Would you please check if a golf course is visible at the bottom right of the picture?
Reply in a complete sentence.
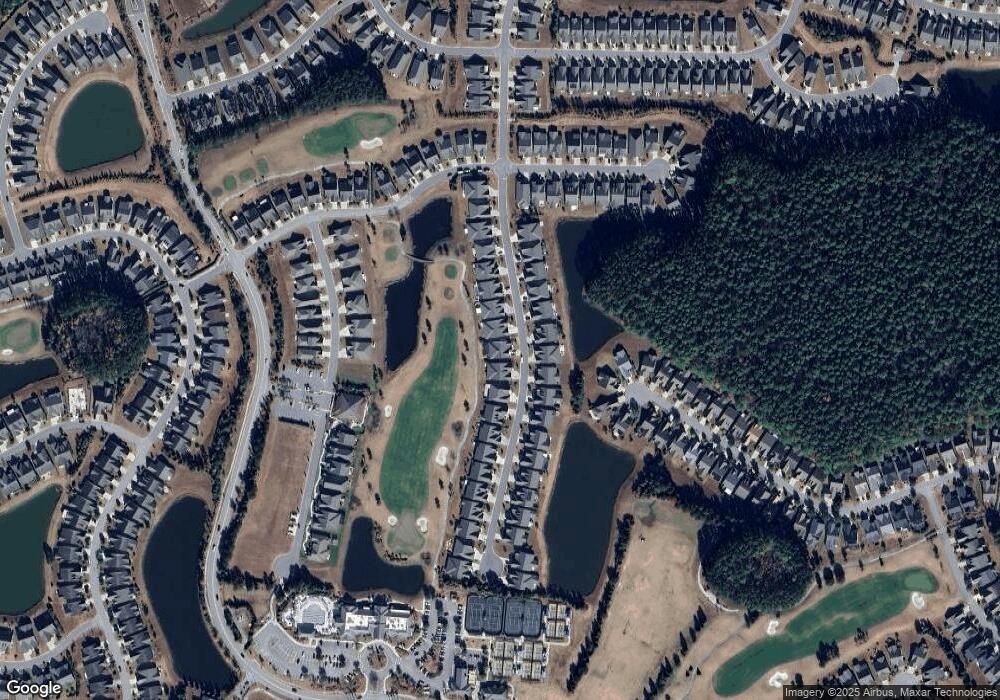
Yes, a golf course is visible at the bottom right of the picture.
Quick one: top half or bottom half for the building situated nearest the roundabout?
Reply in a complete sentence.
Seen from above, the building situated nearest the roundabout lies in the bottom half of the view.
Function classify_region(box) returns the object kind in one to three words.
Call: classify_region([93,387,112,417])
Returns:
house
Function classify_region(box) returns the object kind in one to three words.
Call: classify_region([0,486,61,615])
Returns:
pond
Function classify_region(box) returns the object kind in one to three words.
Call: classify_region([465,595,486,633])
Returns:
tennis court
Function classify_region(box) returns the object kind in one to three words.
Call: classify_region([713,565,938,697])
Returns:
golf course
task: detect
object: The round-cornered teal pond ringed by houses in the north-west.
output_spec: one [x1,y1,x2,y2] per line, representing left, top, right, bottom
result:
[57,80,145,172]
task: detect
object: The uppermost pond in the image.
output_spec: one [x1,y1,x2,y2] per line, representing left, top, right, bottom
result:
[185,0,270,37]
